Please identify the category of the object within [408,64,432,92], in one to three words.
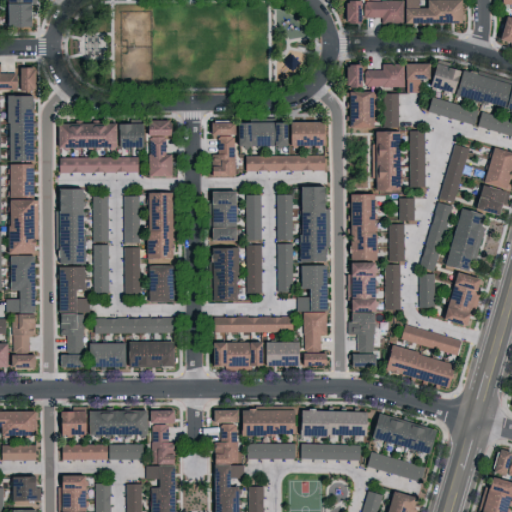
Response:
house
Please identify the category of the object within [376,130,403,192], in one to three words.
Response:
building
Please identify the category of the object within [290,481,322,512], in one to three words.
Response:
basketball court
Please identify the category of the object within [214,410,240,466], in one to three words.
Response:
building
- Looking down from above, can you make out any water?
No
